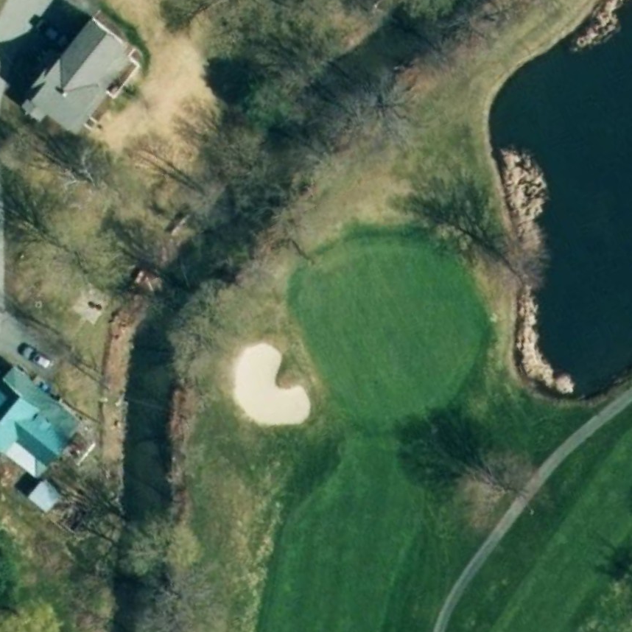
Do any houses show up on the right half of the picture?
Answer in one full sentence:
No, on the right half of the picture there is no house.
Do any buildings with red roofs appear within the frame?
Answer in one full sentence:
No, the frame has no building with a red roof in it.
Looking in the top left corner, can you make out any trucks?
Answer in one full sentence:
No, I see no truck in the top left corner.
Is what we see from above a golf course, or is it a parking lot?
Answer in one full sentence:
This looks like a golf course.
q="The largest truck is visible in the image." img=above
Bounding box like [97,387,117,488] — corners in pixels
[15,340,53,370]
